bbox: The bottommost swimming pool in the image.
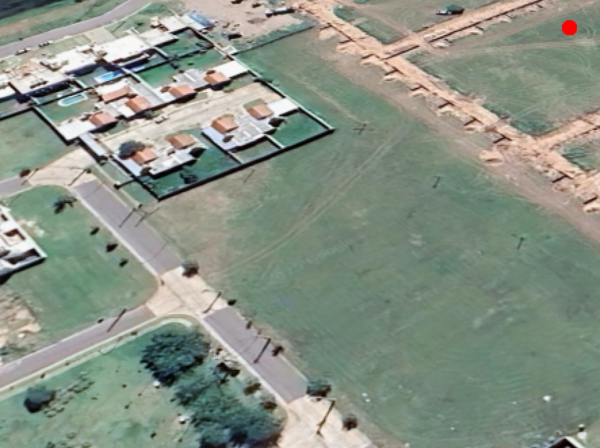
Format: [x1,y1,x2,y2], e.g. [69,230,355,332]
[60,94,88,106]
